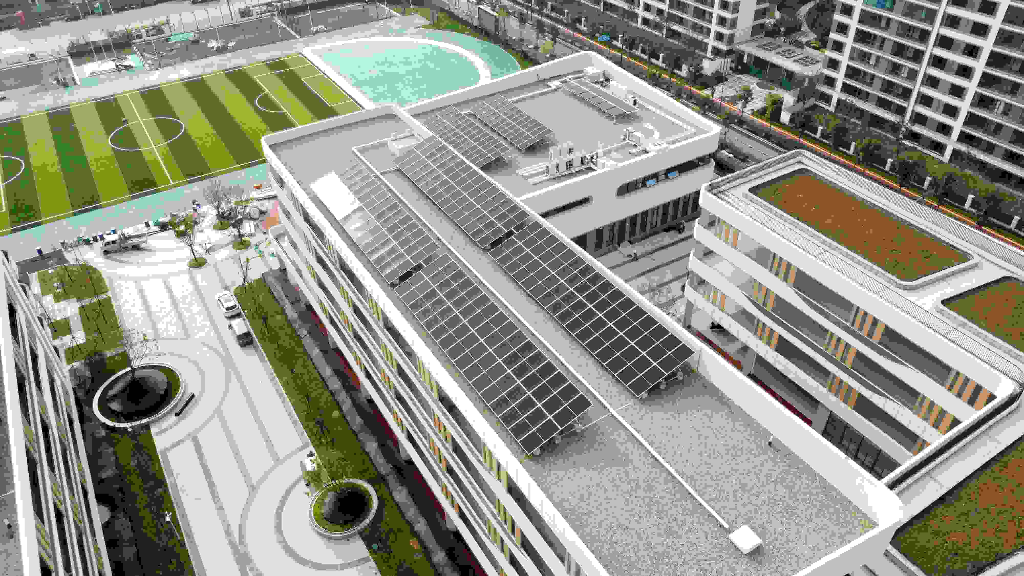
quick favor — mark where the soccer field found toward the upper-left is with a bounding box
[0,53,367,235]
